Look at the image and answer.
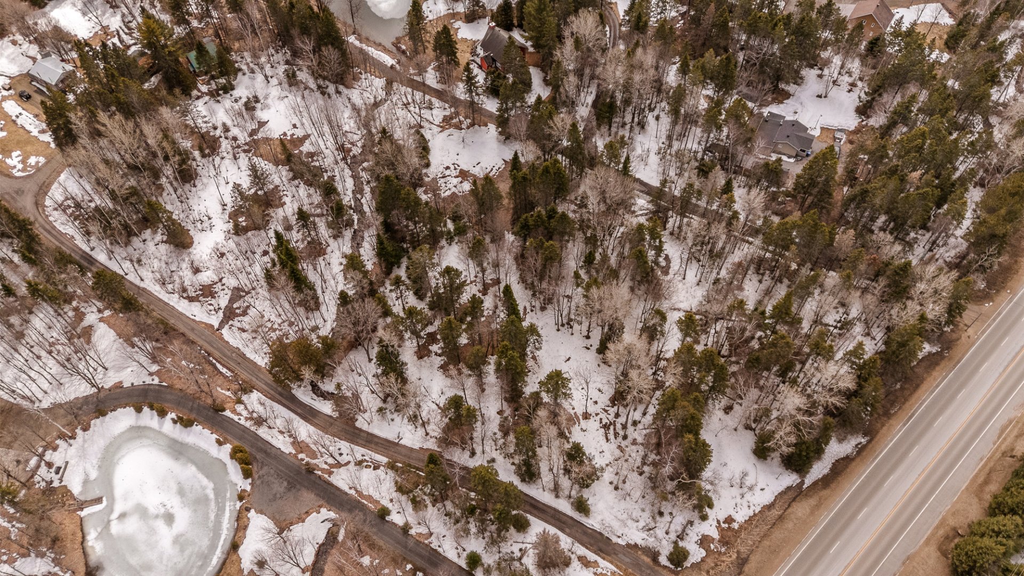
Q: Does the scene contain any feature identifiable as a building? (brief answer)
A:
Yes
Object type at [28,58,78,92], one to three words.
house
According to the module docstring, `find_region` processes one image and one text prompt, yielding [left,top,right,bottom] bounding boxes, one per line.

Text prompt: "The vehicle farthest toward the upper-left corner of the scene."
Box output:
[15,89,31,101]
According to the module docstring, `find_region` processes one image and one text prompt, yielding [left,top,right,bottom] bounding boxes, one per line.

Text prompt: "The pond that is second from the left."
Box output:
[79,429,239,576]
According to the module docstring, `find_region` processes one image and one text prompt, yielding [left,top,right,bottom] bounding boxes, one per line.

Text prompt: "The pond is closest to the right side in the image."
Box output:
[327,0,410,53]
